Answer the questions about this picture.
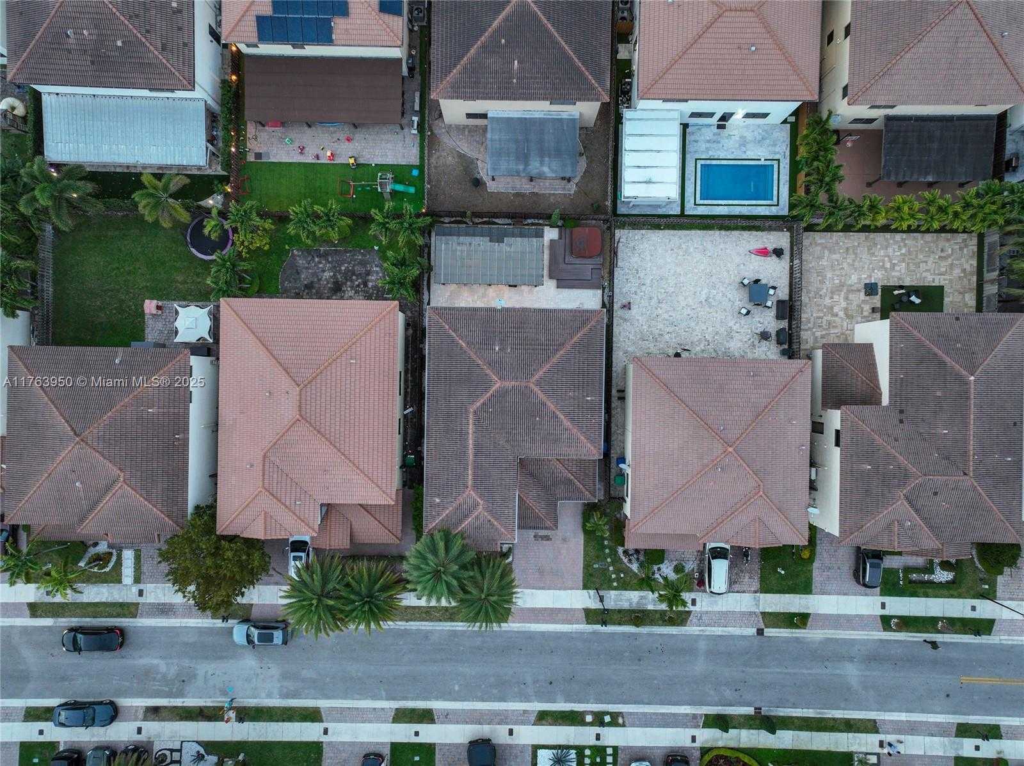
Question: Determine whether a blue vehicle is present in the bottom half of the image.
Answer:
Yes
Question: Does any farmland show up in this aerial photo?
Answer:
No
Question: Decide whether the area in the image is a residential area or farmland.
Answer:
residential area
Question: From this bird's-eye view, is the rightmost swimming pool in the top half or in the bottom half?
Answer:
top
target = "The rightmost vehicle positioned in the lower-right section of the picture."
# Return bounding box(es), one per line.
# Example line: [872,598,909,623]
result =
[852,546,883,588]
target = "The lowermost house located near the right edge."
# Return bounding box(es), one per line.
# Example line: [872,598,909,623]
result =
[811,311,1024,562]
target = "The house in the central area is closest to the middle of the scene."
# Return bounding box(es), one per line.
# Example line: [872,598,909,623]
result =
[423,305,606,551]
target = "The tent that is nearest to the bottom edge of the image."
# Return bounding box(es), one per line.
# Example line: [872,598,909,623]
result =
[174,304,219,344]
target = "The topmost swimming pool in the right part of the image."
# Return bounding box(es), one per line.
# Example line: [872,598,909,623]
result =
[695,158,780,206]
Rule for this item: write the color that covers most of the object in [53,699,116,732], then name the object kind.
blue car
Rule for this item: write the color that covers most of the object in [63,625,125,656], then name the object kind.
black car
